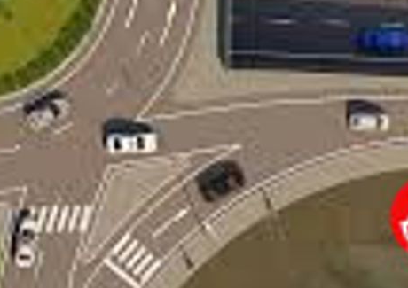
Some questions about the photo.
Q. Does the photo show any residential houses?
No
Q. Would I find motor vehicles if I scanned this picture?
Yes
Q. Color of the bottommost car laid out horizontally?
white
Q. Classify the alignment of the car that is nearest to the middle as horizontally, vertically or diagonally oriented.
diagonally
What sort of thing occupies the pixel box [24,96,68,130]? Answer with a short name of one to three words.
car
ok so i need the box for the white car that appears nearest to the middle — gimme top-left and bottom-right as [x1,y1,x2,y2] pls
[104,131,153,152]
